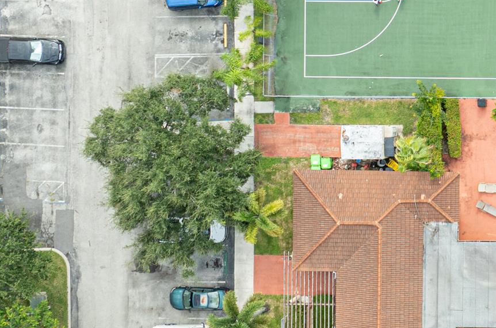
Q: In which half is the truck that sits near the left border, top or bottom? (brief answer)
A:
top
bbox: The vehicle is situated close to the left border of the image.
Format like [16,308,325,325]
[0,33,68,66]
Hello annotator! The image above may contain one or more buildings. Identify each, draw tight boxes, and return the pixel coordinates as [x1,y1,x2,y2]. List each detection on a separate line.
[341,125,386,160]
[291,169,496,328]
